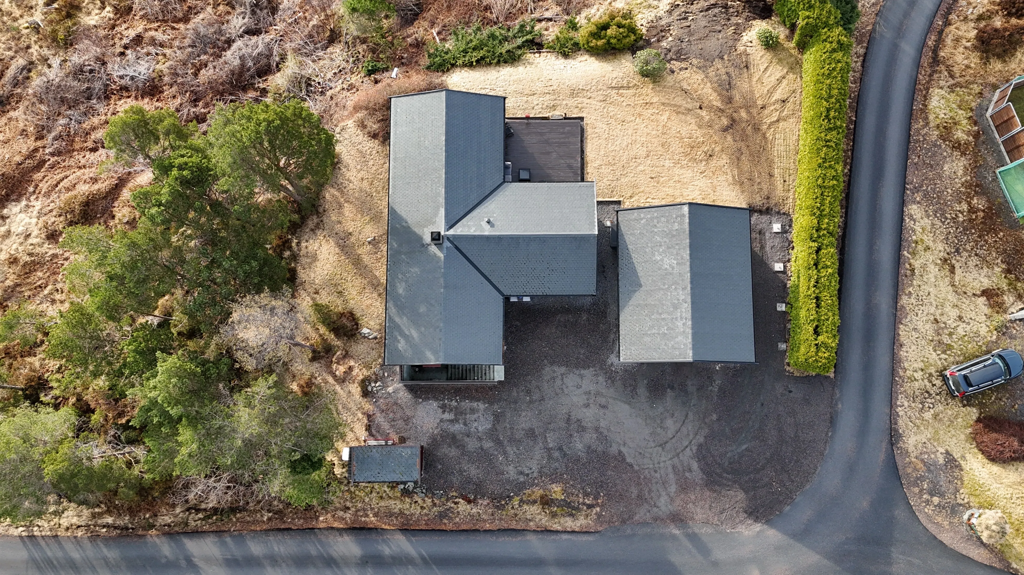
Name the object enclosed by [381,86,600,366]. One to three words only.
house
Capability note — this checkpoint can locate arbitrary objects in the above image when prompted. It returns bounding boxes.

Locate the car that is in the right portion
[942,351,1024,400]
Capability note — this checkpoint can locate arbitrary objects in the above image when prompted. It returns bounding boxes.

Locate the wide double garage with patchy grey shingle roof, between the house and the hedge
[612,201,759,364]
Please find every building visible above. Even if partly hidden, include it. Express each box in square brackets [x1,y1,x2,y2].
[612,201,759,364]
[381,86,600,366]
[349,444,425,488]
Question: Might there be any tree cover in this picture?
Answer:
Yes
